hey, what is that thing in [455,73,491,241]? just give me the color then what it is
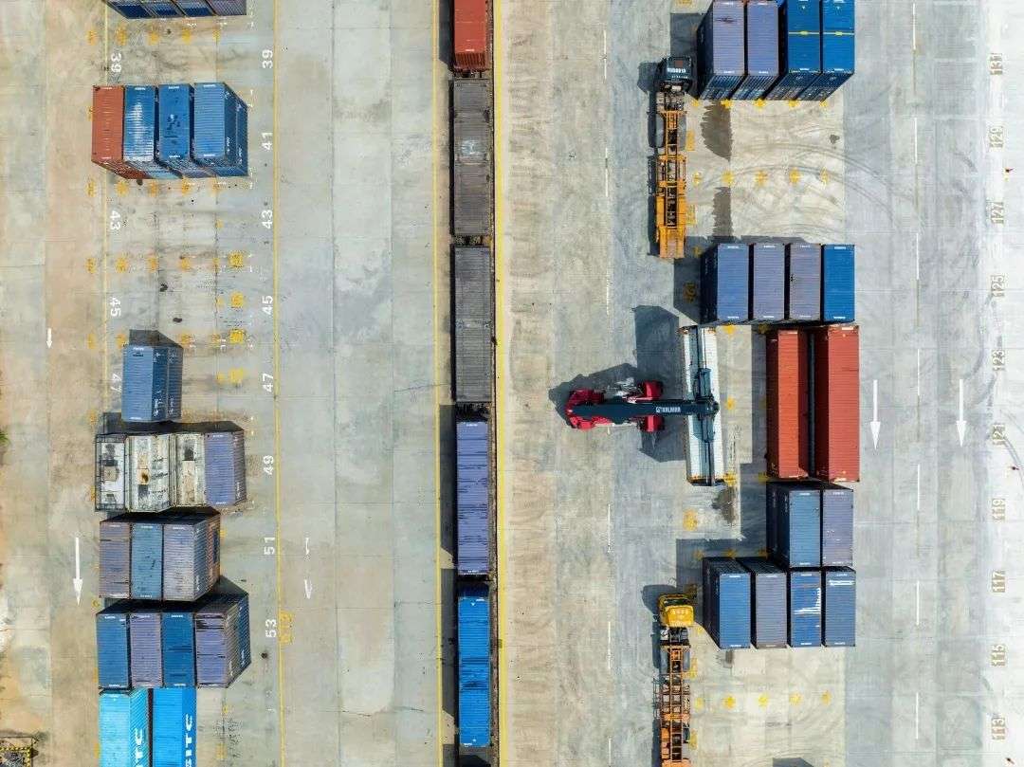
gray rail car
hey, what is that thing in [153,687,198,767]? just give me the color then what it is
blue shipping container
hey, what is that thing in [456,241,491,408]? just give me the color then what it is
gray rail car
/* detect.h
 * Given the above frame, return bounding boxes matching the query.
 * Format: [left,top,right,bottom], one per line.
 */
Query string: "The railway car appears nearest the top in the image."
[455,0,490,79]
